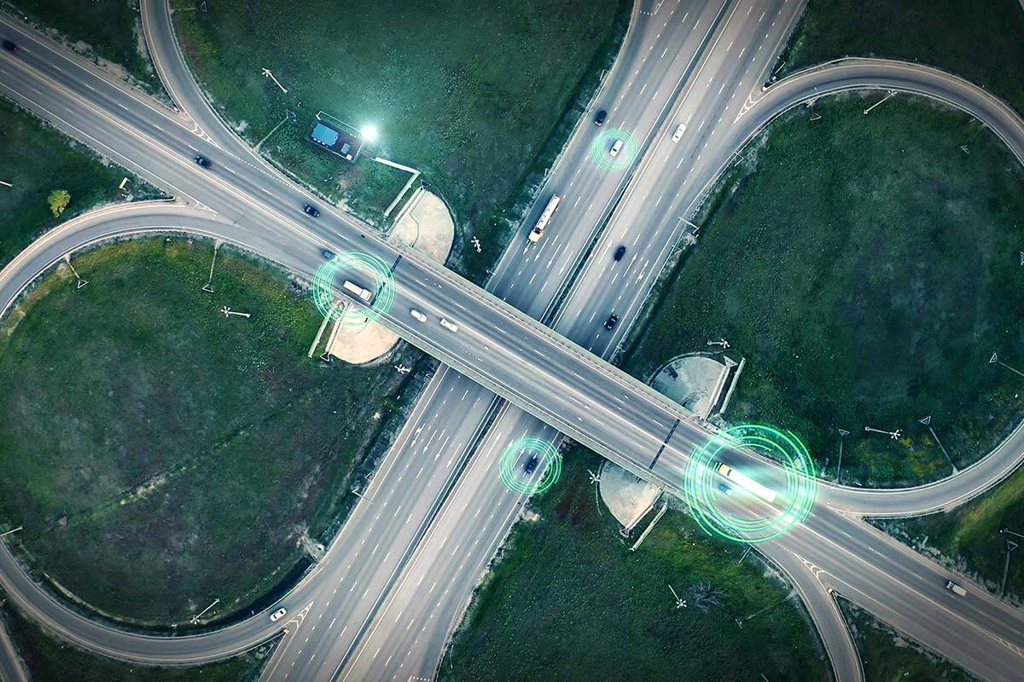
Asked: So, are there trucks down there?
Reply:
Yes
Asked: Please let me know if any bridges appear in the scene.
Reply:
Yes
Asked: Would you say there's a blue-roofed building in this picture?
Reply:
Yes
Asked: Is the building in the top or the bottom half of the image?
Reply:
top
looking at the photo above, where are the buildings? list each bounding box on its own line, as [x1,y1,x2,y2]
[310,120,339,145]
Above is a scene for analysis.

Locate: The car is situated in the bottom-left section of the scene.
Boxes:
[269,606,288,622]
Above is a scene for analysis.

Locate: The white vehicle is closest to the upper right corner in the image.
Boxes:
[671,123,685,142]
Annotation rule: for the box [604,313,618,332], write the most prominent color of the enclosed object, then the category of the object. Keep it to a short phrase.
black car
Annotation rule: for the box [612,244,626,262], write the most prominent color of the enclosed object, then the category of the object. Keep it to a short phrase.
black car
